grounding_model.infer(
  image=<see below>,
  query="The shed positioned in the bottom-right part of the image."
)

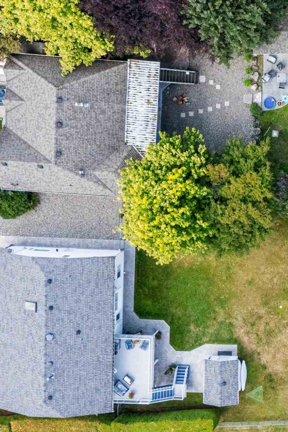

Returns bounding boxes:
[204,357,238,407]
